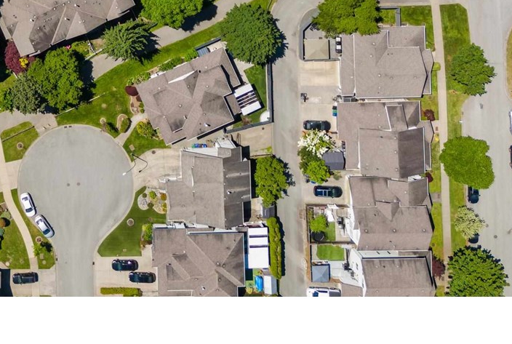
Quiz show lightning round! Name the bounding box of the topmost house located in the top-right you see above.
[330,24,431,98]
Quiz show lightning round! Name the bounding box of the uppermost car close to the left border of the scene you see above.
[19,191,35,216]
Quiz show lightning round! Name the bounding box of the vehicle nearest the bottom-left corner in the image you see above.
[12,270,39,285]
